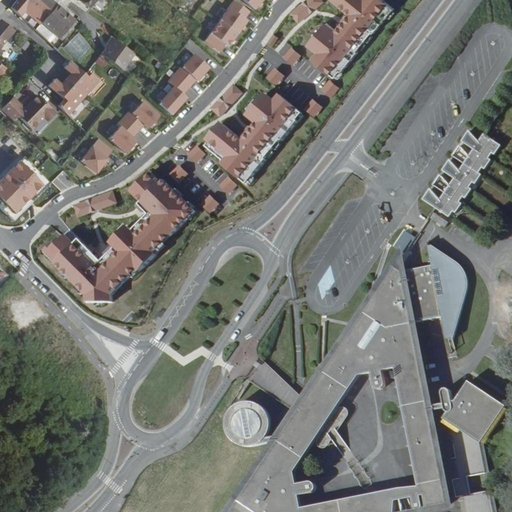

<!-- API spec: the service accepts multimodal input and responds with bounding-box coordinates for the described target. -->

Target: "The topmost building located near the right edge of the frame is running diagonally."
[421,129,502,217]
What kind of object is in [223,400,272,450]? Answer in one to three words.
building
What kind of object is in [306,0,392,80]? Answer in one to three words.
building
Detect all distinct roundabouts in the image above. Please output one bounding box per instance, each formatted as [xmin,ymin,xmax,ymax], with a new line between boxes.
[56,204,289,512]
